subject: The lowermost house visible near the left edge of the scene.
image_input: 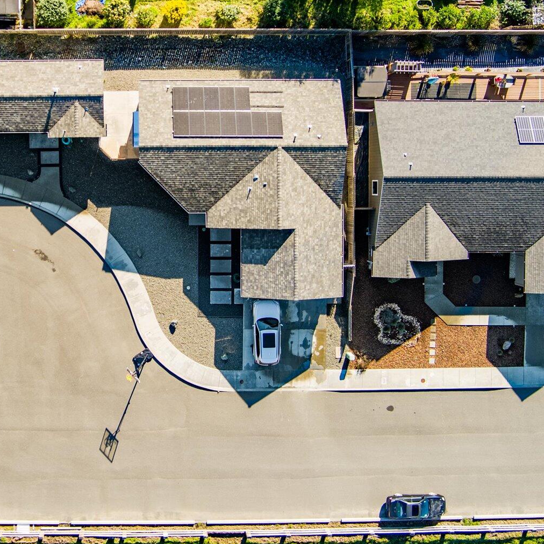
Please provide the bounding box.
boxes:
[0,57,107,137]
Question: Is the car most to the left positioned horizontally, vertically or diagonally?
vertically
